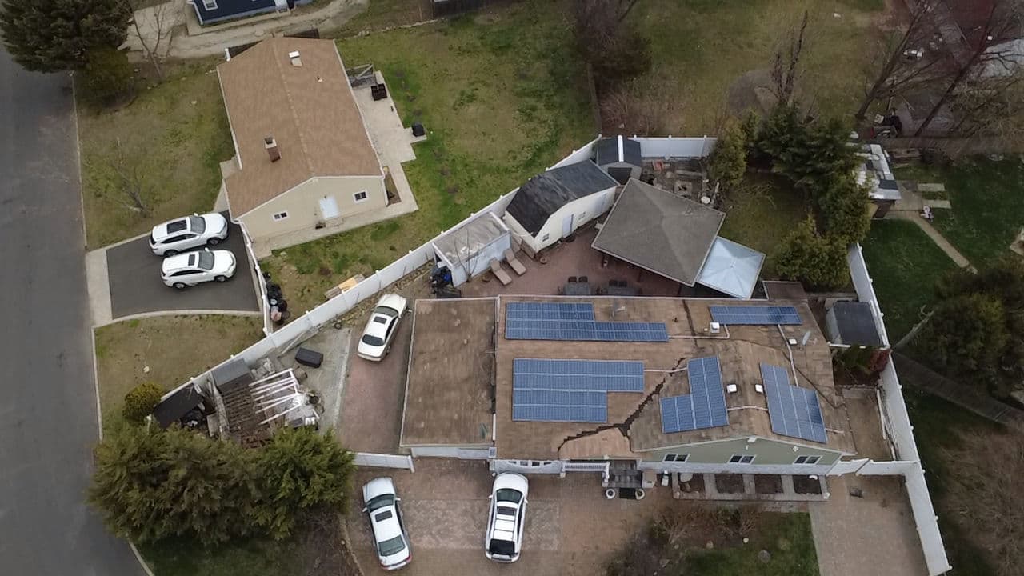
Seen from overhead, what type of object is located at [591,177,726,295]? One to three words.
building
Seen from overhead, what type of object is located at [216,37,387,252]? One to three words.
house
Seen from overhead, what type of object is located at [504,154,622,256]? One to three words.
shed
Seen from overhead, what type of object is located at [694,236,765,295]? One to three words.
gazebo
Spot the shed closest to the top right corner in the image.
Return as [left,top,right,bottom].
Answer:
[850,143,902,218]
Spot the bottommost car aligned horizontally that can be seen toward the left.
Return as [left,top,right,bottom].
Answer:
[161,249,238,291]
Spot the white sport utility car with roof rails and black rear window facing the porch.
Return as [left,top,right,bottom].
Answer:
[483,472,529,570]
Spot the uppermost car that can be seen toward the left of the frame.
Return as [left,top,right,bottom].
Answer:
[152,216,229,258]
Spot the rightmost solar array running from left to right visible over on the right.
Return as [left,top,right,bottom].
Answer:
[709,306,802,325]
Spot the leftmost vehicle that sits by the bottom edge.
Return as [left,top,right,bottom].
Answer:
[361,476,415,576]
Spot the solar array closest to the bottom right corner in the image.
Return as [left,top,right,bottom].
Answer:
[760,363,827,443]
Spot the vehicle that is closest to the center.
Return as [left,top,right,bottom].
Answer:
[356,294,406,364]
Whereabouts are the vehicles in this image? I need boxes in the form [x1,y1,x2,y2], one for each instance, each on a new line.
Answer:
[161,249,238,291]
[152,216,229,258]
[483,472,529,570]
[361,476,415,576]
[356,294,406,364]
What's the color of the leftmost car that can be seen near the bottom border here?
white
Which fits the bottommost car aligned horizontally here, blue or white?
white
